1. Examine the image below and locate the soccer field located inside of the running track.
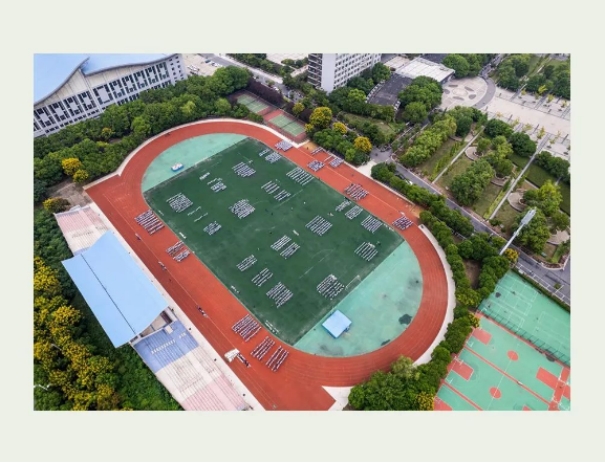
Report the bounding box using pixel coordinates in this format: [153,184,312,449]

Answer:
[143,137,404,346]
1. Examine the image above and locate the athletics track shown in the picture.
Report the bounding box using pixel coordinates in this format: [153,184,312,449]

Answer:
[84,123,451,450]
